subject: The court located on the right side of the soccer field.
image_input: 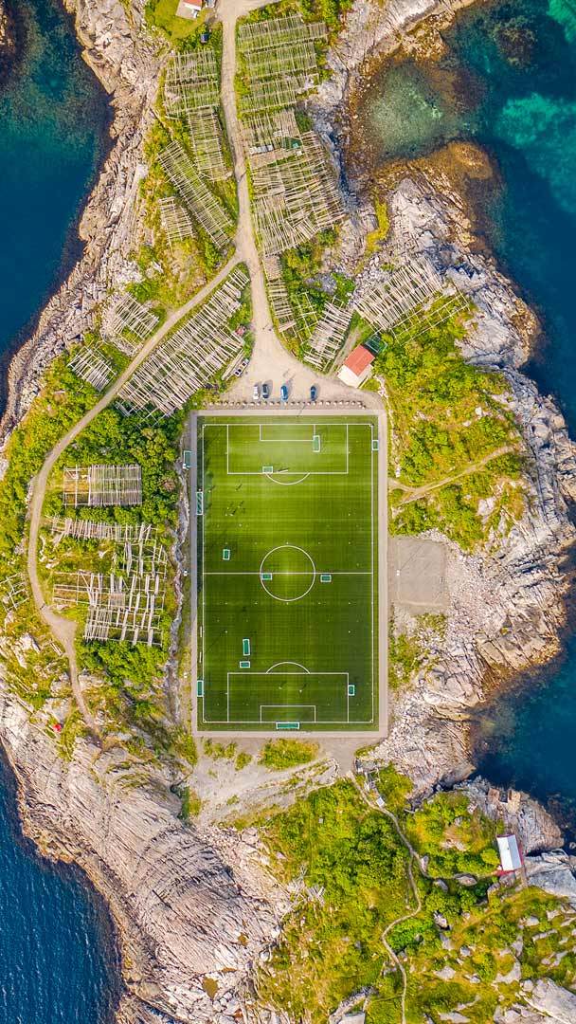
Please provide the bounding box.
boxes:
[391,538,447,606]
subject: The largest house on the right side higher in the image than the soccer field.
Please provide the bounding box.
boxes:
[344,346,375,376]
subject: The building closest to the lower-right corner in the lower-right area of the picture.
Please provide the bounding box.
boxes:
[497,832,523,874]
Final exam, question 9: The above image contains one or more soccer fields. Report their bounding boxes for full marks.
[197,416,378,731]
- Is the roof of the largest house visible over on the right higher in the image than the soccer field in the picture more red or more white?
red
